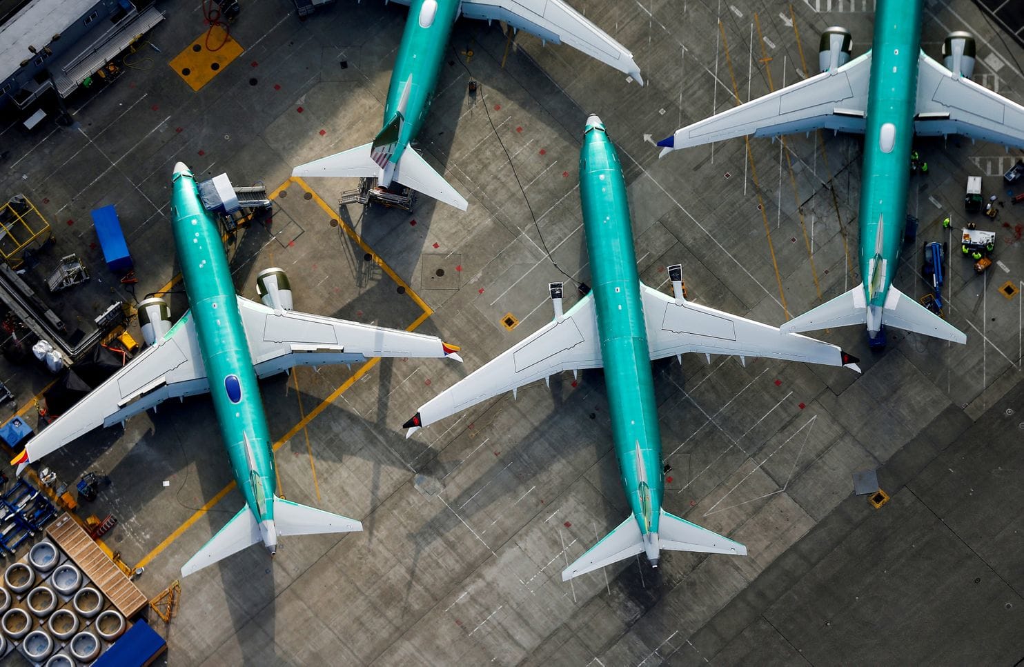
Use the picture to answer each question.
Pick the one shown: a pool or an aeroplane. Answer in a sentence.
I can see an aeroplane in this picture.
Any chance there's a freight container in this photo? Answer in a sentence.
Yes, the photo shows a freight container.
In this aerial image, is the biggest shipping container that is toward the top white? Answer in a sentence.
No, the color of the biggest shipping container that is toward the top is blue.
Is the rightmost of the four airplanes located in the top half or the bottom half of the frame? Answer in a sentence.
It is in the top half that the rightmost of the four airplanes appears.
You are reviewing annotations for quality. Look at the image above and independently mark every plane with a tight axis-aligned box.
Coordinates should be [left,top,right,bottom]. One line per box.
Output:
[14,163,463,575]
[657,0,1024,341]
[402,114,860,578]
[292,0,641,207]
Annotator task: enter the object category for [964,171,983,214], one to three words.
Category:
vehicle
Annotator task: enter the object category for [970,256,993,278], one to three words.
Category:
work vehicle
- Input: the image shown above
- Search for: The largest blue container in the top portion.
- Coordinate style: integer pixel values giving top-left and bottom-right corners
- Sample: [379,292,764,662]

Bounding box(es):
[90,204,134,272]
